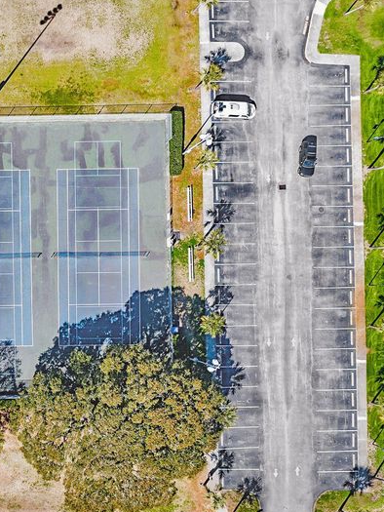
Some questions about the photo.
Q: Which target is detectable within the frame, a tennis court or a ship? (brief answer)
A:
tennis court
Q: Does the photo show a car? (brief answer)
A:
Yes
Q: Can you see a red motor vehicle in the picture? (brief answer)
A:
No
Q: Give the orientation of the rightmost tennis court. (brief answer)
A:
vertically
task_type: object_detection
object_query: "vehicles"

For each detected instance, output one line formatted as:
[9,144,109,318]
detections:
[213,100,254,119]
[296,141,316,178]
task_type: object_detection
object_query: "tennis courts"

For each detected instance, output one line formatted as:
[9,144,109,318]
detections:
[56,141,141,374]
[0,169,33,346]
